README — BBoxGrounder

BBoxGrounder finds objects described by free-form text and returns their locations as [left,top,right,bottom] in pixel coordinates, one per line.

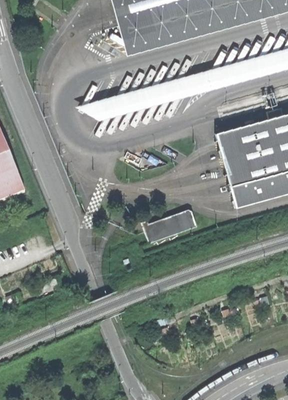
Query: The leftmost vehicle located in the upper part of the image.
[79,81,98,107]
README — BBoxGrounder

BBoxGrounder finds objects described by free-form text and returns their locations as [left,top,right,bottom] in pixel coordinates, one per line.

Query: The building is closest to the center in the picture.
[142,210,197,244]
